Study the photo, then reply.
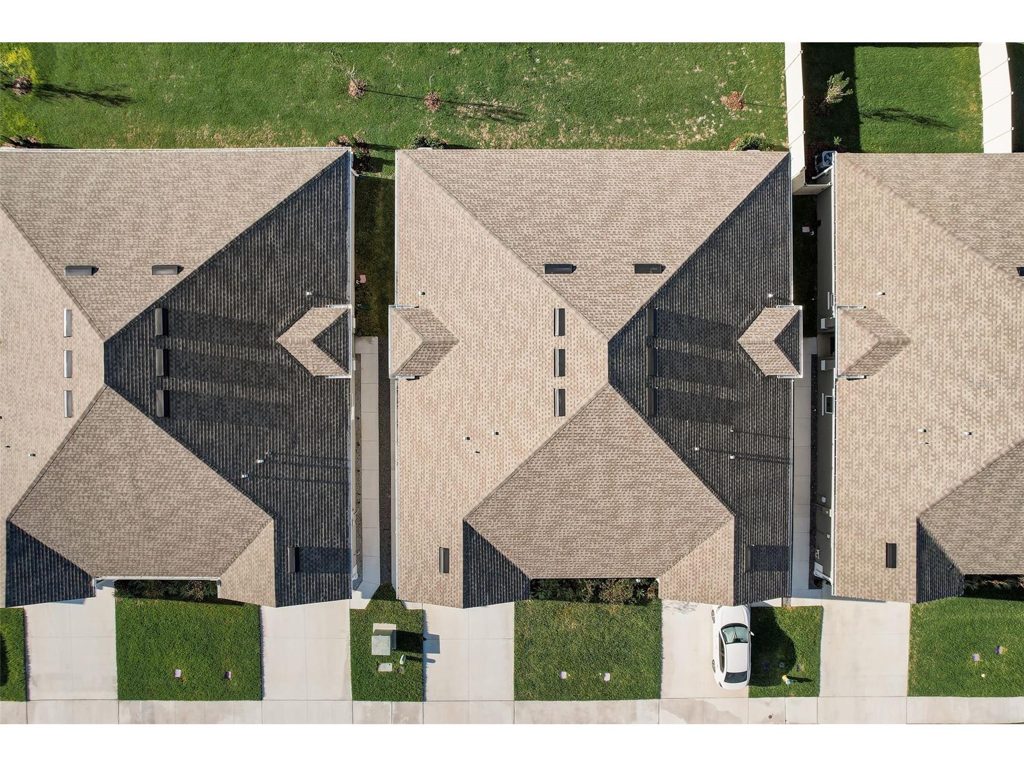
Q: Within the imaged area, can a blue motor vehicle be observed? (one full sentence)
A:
No, the frame has no blue motor vehicle in it.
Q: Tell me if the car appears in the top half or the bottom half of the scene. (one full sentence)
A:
The car sits in the bottom half of the picture.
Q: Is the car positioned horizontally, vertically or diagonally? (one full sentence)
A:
In this picture, the car is oriented vertically.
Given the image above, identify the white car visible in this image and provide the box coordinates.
[712,605,756,691]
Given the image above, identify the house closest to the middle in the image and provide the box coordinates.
[388,148,806,608]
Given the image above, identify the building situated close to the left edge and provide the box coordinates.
[0,148,361,607]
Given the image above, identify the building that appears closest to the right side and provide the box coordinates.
[812,152,1024,603]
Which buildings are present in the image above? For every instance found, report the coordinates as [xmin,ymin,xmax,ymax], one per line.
[812,152,1024,603]
[0,148,361,607]
[388,148,806,608]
